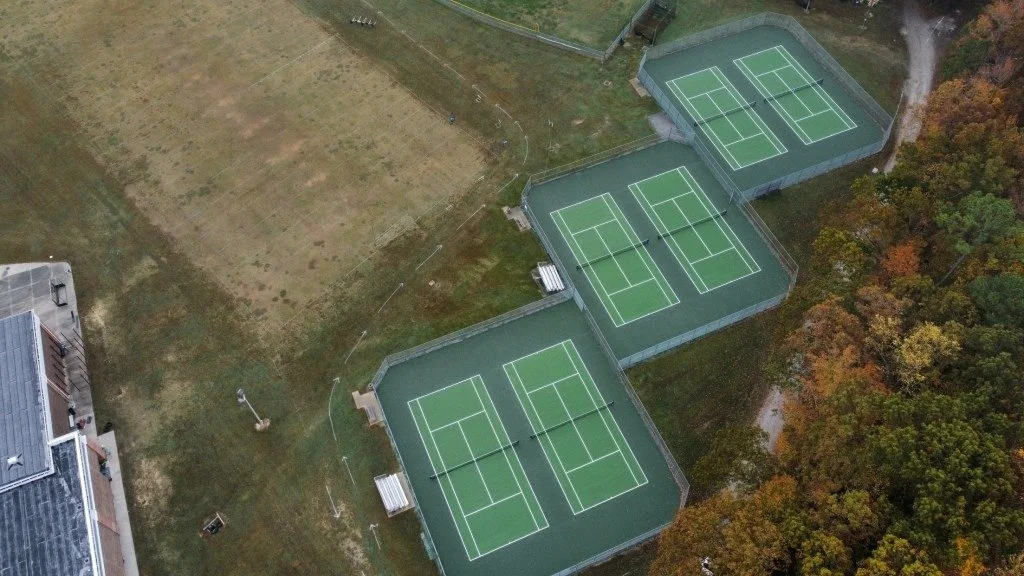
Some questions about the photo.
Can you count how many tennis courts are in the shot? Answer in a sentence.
Altogether the scene contains 6 tennis courts.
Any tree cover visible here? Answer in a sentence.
Yes, the picture does contain tree cover.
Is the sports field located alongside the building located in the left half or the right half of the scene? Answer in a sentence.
You can find the sports field located alongside the building on the left side of the picture.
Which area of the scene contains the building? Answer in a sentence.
The building sits in the bottom left section of the image.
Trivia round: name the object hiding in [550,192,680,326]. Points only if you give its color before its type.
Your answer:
green tennis court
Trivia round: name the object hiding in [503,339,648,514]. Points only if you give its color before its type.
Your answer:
green tennis court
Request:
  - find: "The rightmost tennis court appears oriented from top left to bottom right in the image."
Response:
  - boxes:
[734,45,857,144]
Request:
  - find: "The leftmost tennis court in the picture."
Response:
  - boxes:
[408,375,549,560]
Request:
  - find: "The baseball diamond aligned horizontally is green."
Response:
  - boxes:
[439,0,653,60]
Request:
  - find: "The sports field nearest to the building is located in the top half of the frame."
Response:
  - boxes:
[0,0,528,370]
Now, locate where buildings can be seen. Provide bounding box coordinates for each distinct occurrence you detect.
[0,317,126,576]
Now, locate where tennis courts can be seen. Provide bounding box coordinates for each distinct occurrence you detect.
[734,45,857,144]
[408,375,549,560]
[503,339,648,514]
[550,192,680,326]
[667,66,788,170]
[628,166,761,293]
